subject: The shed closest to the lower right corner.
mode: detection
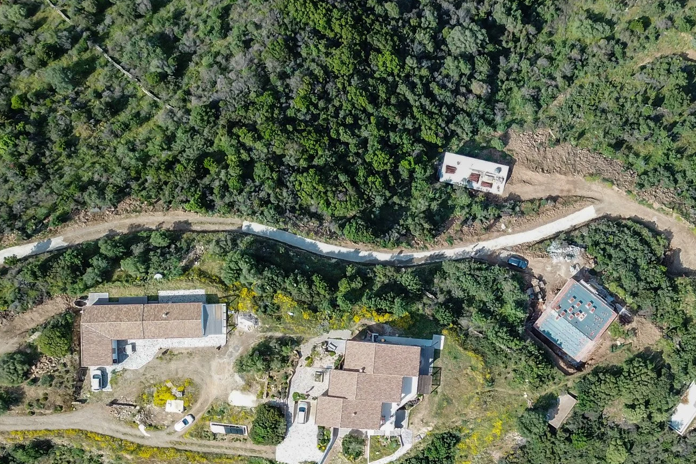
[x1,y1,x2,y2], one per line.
[667,380,696,435]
